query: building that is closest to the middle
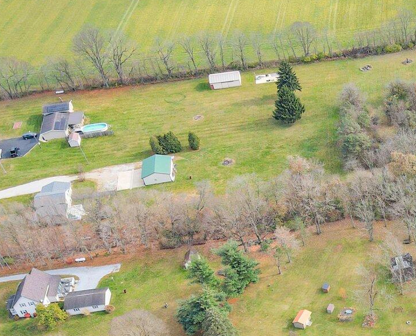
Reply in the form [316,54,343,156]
[142,151,174,186]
